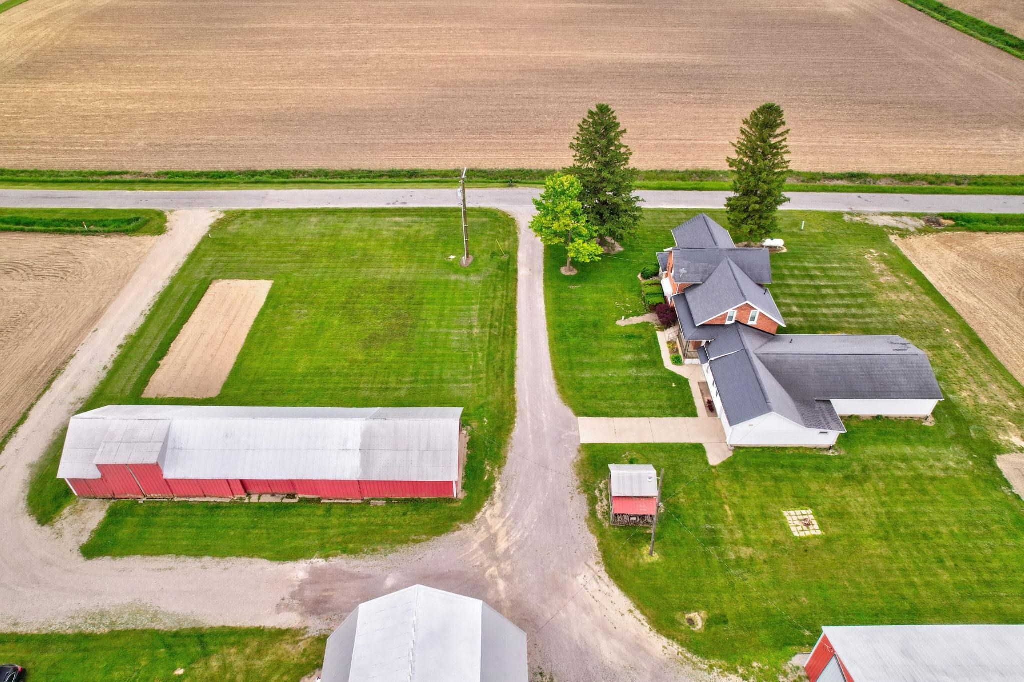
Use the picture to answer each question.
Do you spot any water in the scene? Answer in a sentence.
No, the scene doesn't show any water.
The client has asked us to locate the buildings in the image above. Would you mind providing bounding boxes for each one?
[319,585,529,682]
[805,627,1024,682]
[655,214,944,453]
[606,464,658,527]
[54,405,465,500]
